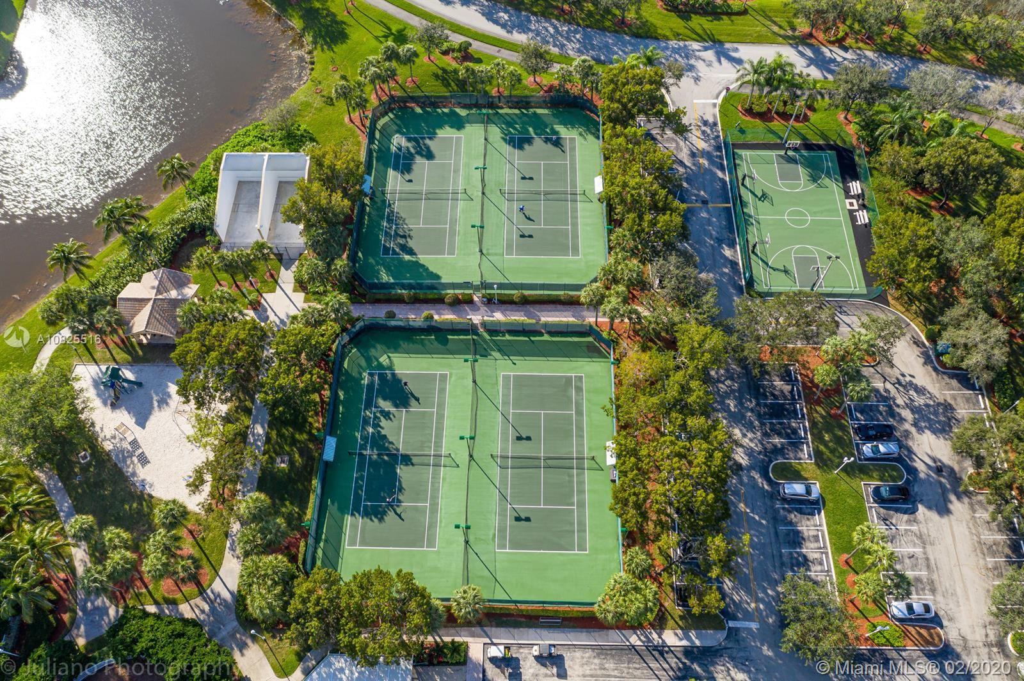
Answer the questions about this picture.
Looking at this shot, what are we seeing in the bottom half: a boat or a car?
car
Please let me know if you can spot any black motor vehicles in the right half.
Yes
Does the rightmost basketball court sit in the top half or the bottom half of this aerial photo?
top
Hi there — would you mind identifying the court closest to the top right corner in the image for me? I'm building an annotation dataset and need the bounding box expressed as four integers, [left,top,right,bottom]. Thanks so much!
[731,143,890,305]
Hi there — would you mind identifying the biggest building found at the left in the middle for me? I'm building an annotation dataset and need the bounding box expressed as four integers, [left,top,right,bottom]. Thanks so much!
[116,267,207,347]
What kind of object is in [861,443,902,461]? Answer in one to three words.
car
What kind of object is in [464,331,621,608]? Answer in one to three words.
tennis court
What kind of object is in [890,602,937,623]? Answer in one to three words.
car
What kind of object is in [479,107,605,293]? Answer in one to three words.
tennis court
